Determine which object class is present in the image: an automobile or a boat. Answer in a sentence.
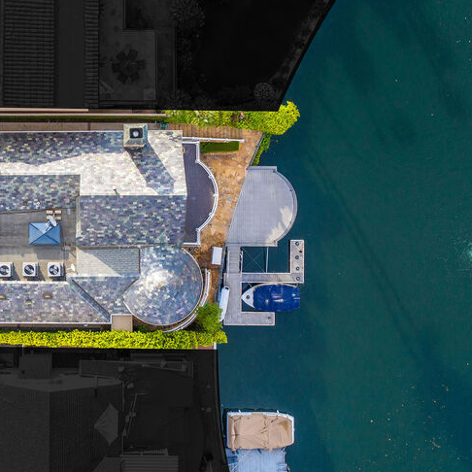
It is a boat that can be seen here.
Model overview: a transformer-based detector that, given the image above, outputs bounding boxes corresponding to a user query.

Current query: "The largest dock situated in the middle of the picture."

[224,239,306,326]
